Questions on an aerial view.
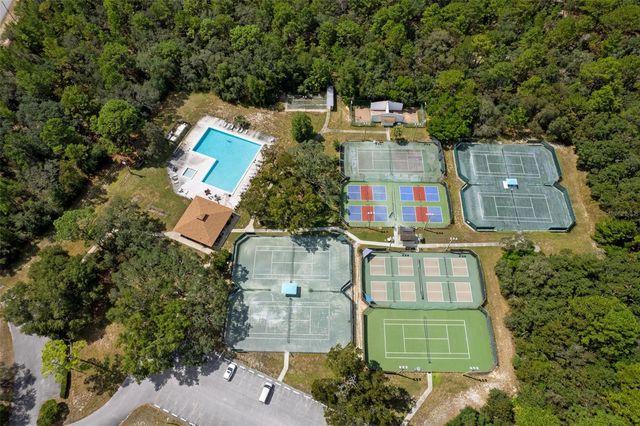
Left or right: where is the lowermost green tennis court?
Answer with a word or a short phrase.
right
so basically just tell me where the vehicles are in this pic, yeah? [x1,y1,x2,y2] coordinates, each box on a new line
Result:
[258,382,272,405]
[222,363,235,382]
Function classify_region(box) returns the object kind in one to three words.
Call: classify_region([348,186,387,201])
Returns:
sports court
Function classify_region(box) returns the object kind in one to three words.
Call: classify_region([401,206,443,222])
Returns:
sports court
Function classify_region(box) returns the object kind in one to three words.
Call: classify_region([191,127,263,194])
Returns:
swimming pool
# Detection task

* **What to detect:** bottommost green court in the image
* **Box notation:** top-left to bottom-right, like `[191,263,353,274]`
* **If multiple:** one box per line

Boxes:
[364,305,494,372]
